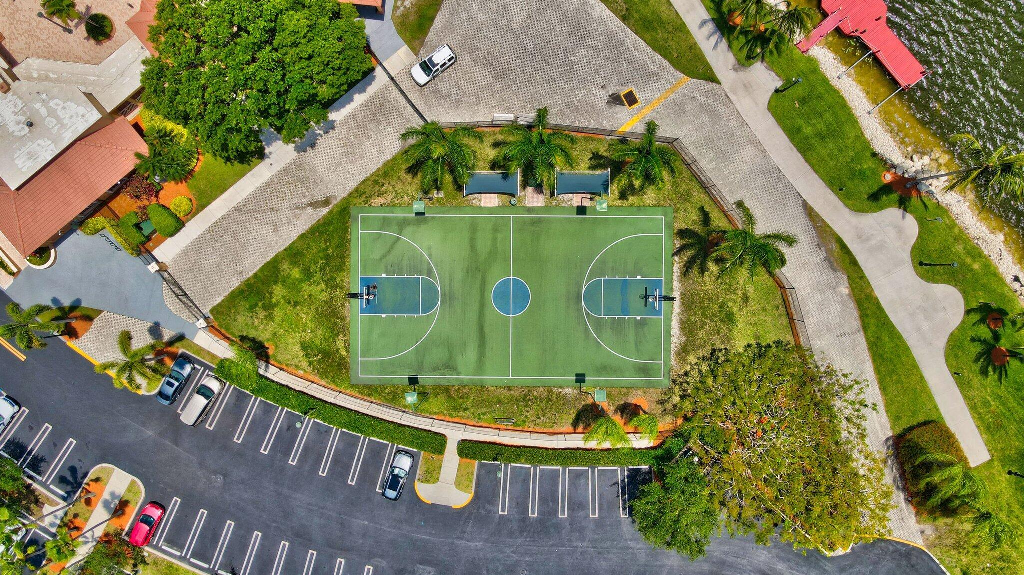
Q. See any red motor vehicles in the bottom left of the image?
Yes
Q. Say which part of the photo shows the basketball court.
center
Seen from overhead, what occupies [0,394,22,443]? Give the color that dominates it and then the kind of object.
white car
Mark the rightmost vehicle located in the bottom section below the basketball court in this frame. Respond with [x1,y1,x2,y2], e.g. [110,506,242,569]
[381,448,416,502]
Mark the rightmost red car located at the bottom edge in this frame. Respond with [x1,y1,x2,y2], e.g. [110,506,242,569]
[130,498,168,548]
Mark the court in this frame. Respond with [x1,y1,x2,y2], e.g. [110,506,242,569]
[351,207,674,388]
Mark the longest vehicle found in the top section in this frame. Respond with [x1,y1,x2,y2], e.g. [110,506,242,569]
[410,41,459,89]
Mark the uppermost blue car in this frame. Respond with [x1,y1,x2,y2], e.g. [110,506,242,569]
[156,354,196,406]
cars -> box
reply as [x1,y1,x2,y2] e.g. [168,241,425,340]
[178,373,226,429]
[156,354,196,406]
[410,41,459,89]
[381,448,416,502]
[130,498,168,548]
[0,394,22,443]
